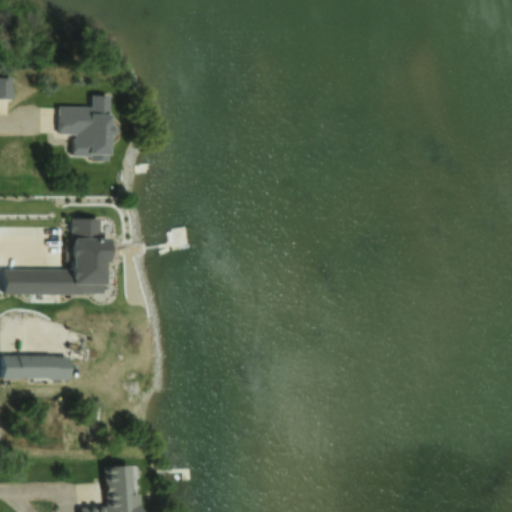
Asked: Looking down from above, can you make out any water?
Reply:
Yes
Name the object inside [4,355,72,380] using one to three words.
house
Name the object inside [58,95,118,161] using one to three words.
house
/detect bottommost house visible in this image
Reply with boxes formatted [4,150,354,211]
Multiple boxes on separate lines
[78,466,143,512]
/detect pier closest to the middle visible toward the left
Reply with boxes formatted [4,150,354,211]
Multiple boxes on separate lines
[147,227,187,250]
